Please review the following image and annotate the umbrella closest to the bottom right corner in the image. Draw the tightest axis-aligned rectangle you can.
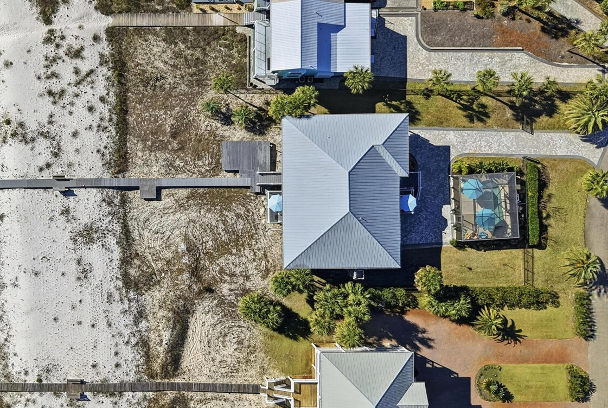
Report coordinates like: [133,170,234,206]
[476,210,495,229]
